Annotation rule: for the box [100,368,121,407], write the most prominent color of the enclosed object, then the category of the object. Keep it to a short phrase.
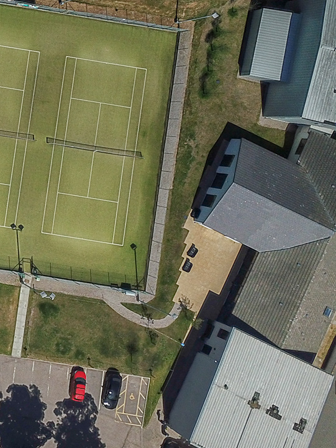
black car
